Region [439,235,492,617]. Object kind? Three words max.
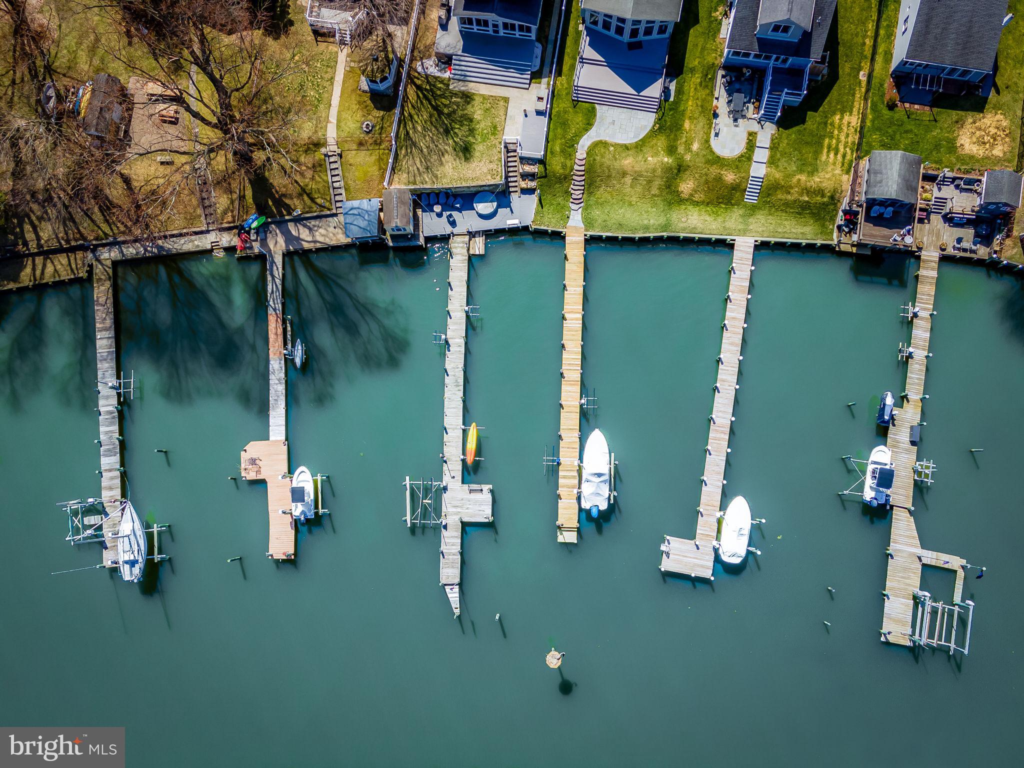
pier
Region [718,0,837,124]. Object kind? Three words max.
house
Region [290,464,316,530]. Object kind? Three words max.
boat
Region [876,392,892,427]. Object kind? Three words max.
boat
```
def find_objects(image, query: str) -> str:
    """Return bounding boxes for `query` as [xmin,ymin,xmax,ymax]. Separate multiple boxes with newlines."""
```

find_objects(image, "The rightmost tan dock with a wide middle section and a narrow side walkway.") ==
[872,252,966,645]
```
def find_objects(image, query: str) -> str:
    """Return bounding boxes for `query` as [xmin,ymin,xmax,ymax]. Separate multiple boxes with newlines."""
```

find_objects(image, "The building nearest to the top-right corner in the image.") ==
[892,0,1024,108]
